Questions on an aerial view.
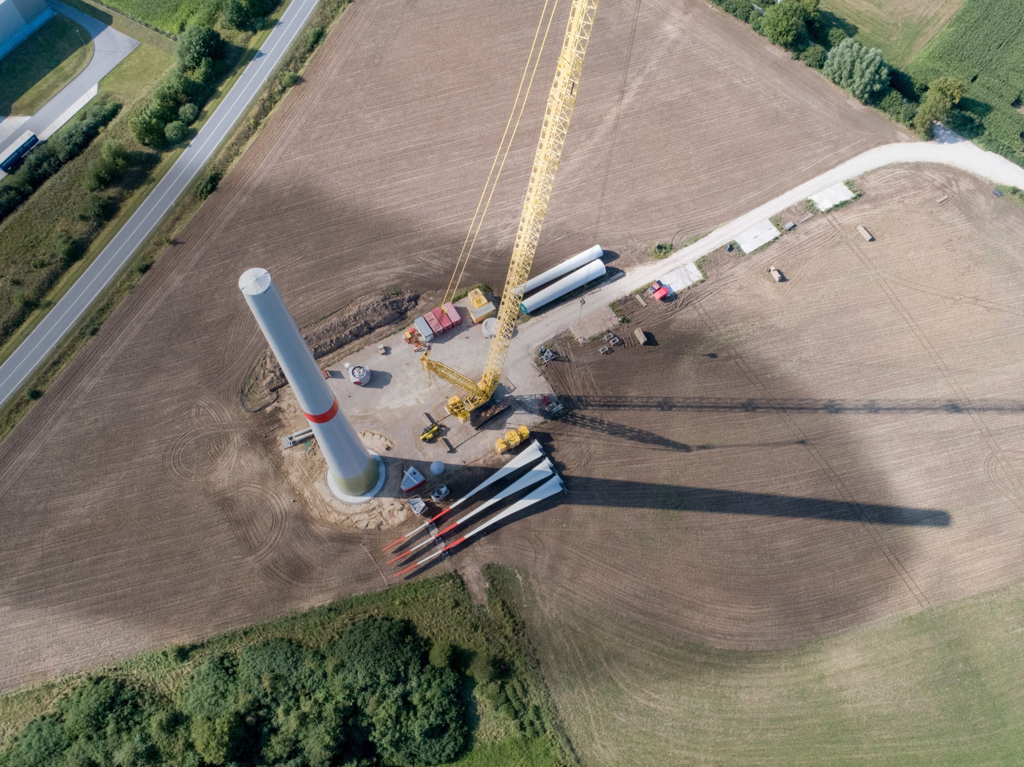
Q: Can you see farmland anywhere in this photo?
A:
Yes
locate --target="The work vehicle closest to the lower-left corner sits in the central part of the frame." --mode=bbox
[420,418,451,442]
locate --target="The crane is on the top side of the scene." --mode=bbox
[416,0,626,434]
